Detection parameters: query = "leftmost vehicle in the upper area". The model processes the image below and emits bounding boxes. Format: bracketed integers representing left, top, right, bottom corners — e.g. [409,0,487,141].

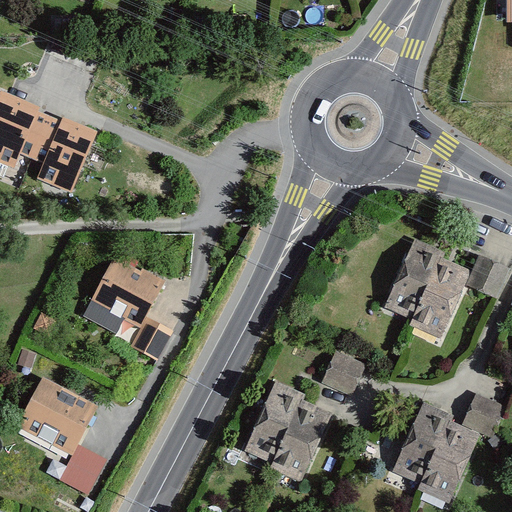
[7,84,29,100]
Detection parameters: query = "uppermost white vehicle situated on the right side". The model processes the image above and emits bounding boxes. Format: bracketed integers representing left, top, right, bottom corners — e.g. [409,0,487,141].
[313,99,330,124]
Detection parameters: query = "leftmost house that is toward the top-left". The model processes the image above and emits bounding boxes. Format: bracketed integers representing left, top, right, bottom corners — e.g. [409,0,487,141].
[0,89,58,168]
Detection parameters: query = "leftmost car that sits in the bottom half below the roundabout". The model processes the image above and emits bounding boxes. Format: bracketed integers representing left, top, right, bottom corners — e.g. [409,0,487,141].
[322,386,345,402]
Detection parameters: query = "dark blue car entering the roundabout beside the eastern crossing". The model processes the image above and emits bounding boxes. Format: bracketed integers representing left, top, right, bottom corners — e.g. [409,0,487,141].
[410,120,432,140]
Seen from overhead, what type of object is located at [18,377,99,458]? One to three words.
house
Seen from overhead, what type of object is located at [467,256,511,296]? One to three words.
building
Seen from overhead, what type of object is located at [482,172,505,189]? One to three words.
car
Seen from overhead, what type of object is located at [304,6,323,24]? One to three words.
swimming pool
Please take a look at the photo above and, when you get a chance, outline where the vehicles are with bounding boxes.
[322,386,345,402]
[482,172,505,189]
[313,99,330,124]
[410,120,432,140]
[7,84,29,100]
[468,234,488,248]
[488,216,512,234]
[472,222,492,237]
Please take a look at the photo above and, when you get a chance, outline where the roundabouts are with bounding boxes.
[290,56,418,188]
